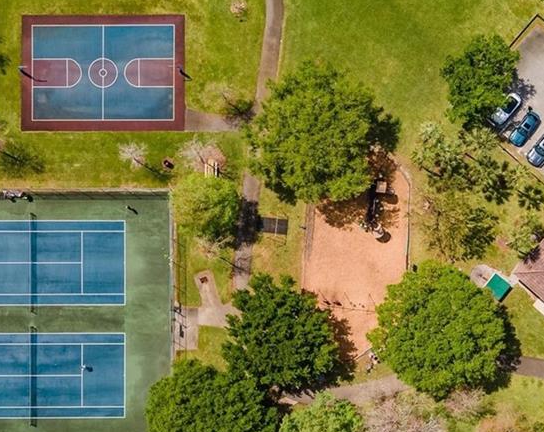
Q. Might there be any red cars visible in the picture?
No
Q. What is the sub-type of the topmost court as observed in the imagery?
basketball court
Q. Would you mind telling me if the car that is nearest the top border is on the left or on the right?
right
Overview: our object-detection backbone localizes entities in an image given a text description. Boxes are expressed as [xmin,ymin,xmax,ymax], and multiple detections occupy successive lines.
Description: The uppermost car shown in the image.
[489,91,523,128]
